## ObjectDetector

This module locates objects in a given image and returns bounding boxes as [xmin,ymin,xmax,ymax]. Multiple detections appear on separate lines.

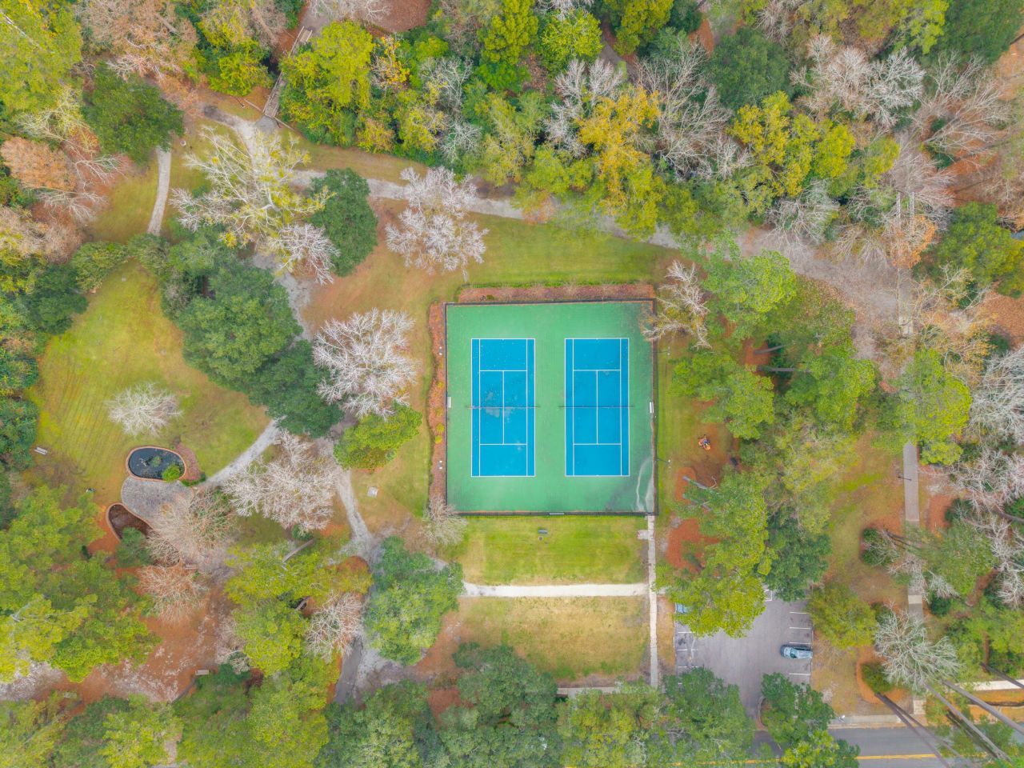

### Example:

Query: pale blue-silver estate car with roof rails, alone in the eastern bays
[781,645,812,661]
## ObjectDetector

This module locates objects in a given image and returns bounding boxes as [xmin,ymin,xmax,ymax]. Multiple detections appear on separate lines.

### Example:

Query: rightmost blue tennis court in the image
[560,338,636,476]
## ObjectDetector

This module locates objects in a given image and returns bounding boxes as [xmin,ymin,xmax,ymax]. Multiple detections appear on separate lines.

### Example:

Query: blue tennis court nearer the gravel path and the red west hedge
[465,338,541,476]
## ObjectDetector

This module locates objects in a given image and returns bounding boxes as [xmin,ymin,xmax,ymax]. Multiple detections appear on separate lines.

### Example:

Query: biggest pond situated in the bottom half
[125,446,186,482]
